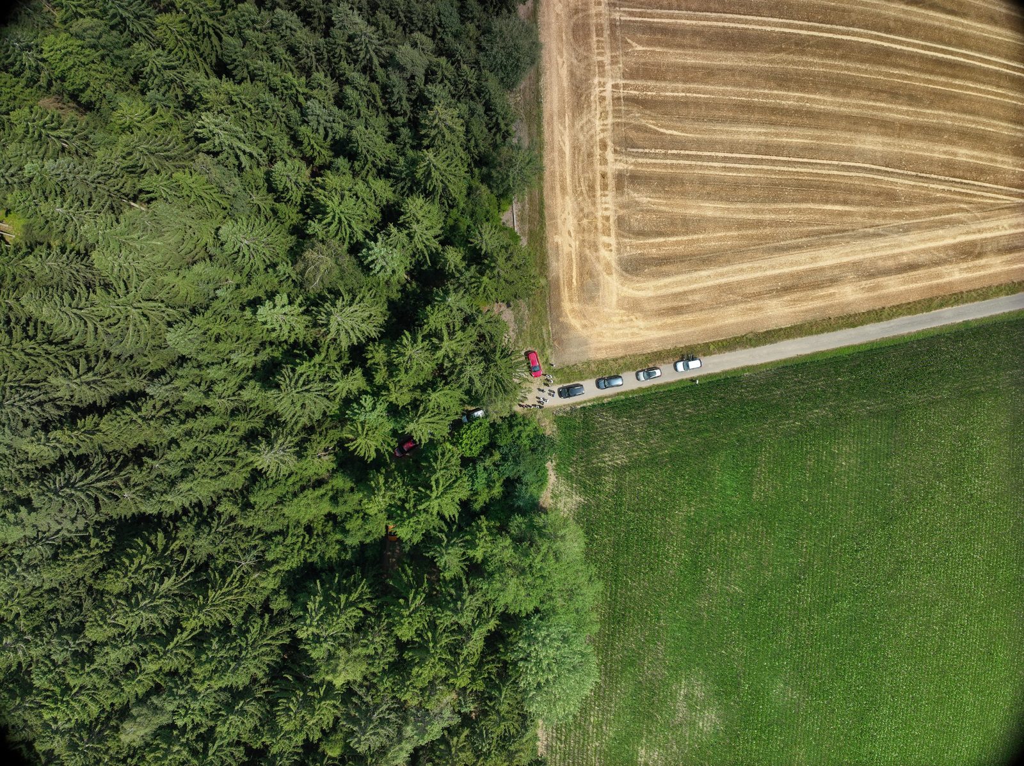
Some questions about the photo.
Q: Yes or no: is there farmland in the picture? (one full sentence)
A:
Yes, farmland shows up in the scene.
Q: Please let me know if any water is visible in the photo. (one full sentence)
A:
No, the picture contains no water.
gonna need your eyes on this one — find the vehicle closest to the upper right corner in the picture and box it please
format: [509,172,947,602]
[675,355,703,372]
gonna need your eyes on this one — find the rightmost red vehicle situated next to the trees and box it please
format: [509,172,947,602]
[528,351,542,377]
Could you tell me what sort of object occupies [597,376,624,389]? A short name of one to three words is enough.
vehicle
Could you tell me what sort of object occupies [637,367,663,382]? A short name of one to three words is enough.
car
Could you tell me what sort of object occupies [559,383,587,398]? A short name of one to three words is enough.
car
